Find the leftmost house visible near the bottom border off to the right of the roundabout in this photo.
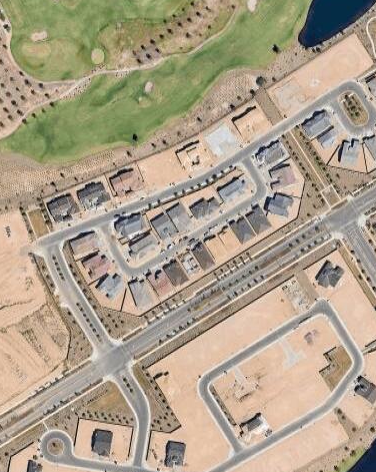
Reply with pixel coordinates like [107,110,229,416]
[89,428,114,460]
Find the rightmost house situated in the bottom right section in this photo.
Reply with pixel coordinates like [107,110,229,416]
[354,375,376,404]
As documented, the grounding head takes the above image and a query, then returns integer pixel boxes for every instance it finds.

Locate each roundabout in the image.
[38,429,73,464]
